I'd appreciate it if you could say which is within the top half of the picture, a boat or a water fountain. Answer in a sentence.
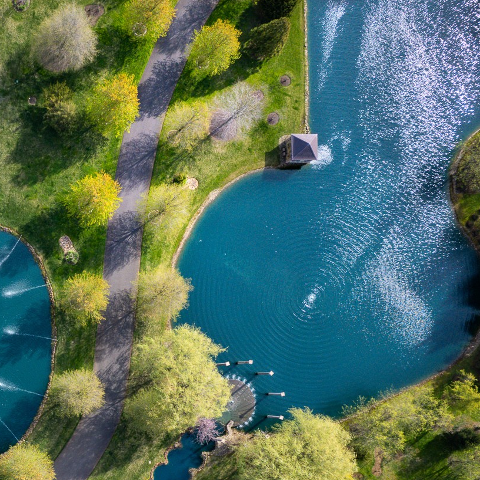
There is a water fountain within the top half of the picture.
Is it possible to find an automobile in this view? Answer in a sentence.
No, there isn't any automobile down there.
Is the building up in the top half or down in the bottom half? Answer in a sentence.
The top half of the photo is where the building is.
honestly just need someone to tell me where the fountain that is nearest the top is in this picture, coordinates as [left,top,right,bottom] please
[304,140,338,170]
